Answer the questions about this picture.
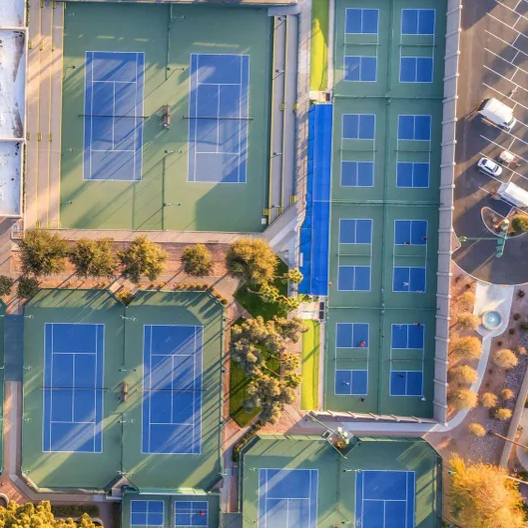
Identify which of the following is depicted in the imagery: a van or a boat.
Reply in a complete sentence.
There is a van in the scene.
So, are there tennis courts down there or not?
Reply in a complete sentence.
Yes, there's a tennis court here.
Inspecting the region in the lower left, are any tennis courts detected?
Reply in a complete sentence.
Yes, you'll find a tennis court in the lower left.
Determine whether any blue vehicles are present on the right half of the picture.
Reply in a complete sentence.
No, the scene shows no blue vehicle on the right half of the picture.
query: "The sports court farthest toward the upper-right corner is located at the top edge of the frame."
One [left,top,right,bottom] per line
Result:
[387,0,447,98]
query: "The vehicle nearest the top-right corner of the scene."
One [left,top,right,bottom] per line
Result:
[474,96,510,124]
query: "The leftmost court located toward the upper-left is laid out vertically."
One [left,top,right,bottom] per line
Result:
[60,2,169,231]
